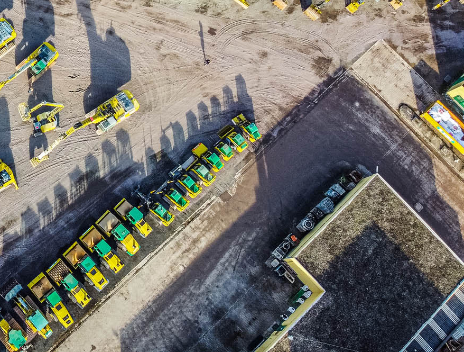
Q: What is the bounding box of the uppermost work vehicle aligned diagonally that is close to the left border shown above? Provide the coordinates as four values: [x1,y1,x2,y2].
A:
[0,38,65,95]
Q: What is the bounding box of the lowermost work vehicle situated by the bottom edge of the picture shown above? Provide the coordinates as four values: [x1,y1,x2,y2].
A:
[0,311,33,352]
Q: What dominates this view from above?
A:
paved ground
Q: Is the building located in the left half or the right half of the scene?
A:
right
